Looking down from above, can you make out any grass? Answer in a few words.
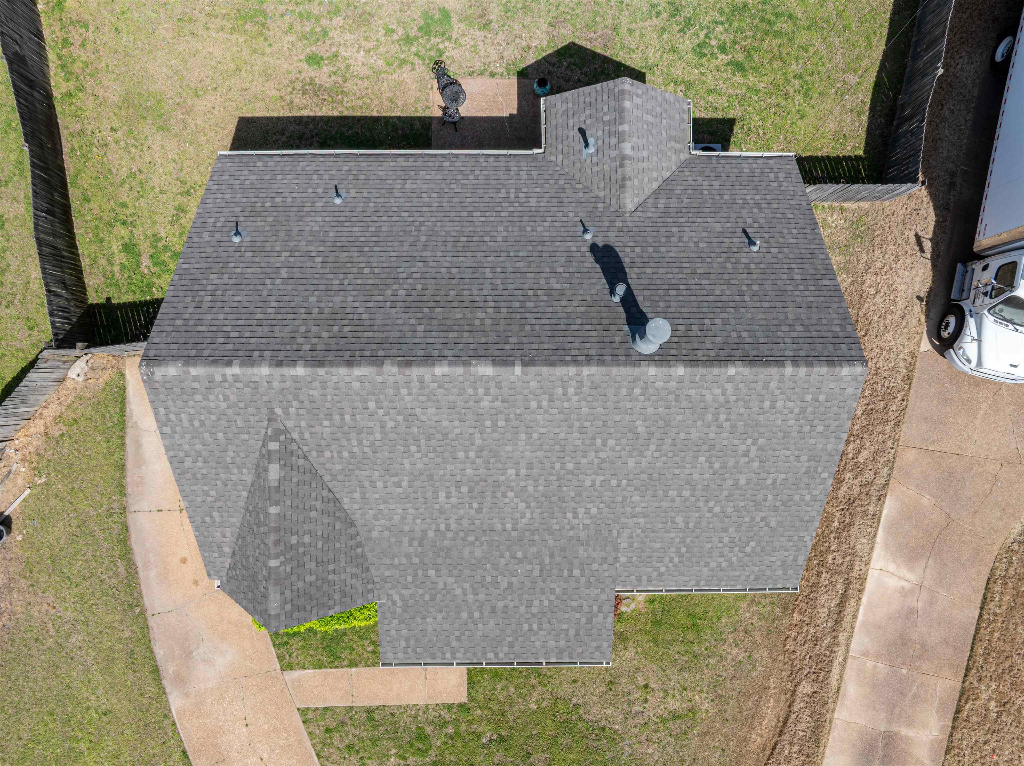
Yes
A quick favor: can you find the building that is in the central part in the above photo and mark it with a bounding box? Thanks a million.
[138,77,868,668]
